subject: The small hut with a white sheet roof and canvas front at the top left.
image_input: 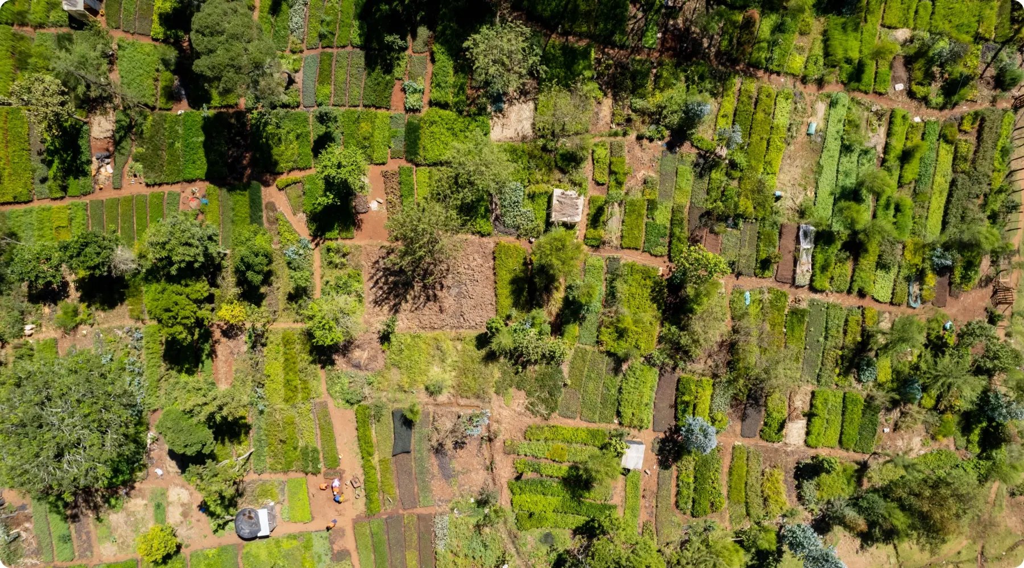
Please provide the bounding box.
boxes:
[62,0,113,29]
